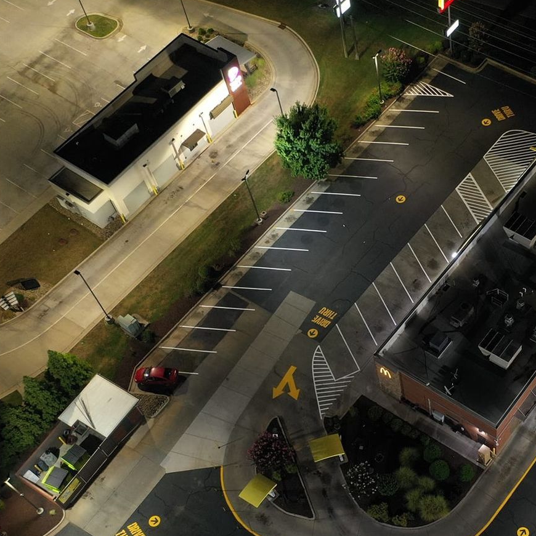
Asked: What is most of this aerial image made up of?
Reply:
paved ground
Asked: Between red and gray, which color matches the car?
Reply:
red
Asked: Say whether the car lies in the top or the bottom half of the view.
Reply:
bottom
